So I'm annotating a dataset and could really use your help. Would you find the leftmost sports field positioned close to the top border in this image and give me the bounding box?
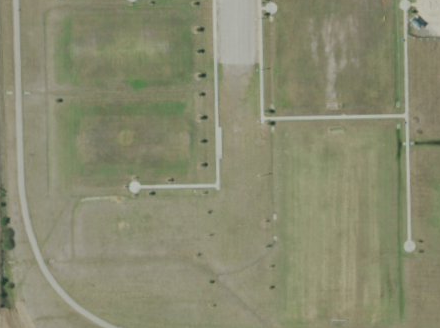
[55,10,195,86]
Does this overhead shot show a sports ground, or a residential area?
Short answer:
sports ground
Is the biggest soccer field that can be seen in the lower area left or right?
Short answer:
right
